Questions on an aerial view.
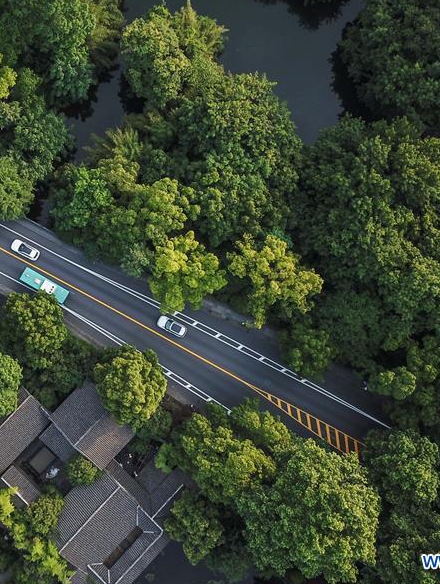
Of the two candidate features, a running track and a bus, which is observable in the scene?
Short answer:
bus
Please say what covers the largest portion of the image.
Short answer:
trees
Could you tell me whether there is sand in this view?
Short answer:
No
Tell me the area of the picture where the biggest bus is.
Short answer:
left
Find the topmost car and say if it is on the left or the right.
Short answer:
left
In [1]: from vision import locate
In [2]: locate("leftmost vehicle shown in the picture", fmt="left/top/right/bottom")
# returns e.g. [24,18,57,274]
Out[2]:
[10,238,42,262]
